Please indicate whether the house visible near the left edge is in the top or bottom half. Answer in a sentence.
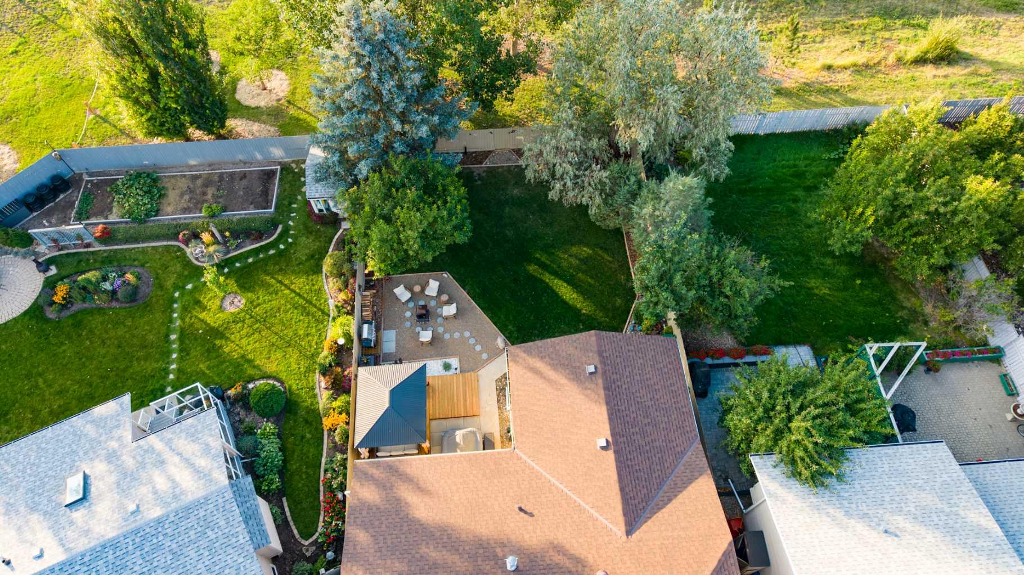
The house visible near the left edge sits in the bottom half of the picture.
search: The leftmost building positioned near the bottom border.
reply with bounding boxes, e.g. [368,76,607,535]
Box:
[0,390,294,575]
